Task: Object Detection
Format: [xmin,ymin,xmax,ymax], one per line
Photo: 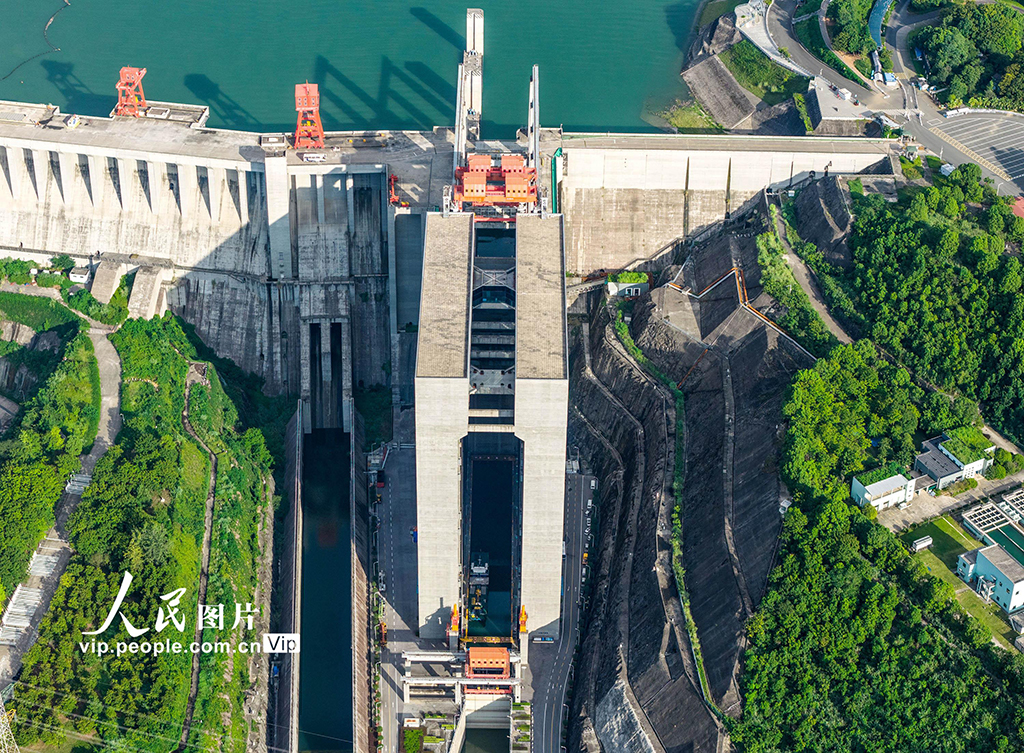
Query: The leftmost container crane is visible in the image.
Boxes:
[114,62,151,120]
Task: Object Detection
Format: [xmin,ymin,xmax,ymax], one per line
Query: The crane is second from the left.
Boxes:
[290,86,328,151]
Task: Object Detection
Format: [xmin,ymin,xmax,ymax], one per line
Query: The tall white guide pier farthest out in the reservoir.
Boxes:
[466,8,483,53]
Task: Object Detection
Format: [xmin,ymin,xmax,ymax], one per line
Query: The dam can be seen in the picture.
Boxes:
[0,94,909,429]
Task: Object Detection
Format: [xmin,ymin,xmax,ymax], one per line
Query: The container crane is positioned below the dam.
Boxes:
[464,646,511,686]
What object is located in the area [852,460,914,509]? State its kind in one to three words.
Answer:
building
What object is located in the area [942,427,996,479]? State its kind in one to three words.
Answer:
building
